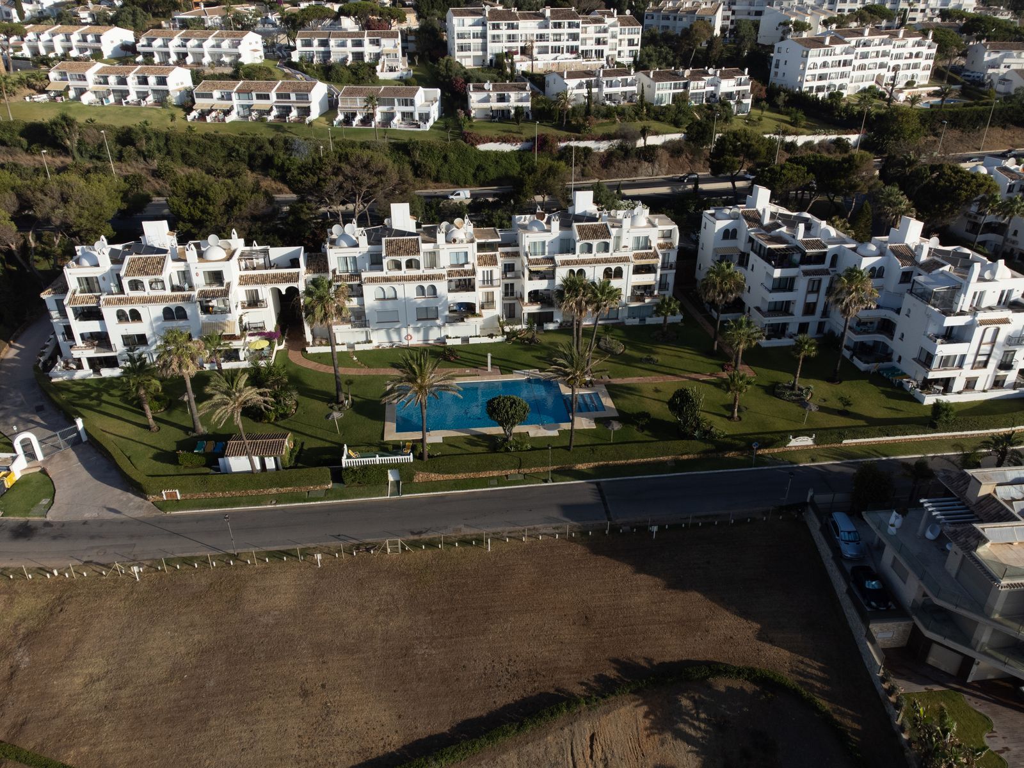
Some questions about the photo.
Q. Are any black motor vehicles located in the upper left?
No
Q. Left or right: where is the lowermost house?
right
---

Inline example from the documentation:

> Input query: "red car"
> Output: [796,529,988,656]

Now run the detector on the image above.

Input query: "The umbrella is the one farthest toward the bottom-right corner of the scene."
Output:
[796,402,820,424]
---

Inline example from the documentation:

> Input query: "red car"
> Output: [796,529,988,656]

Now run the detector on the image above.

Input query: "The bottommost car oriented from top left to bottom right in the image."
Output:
[851,559,900,609]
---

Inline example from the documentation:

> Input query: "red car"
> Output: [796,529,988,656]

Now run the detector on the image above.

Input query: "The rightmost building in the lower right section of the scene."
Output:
[862,461,1024,692]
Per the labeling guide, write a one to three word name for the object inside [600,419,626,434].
umbrella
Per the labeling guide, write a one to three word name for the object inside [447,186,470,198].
vehicle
